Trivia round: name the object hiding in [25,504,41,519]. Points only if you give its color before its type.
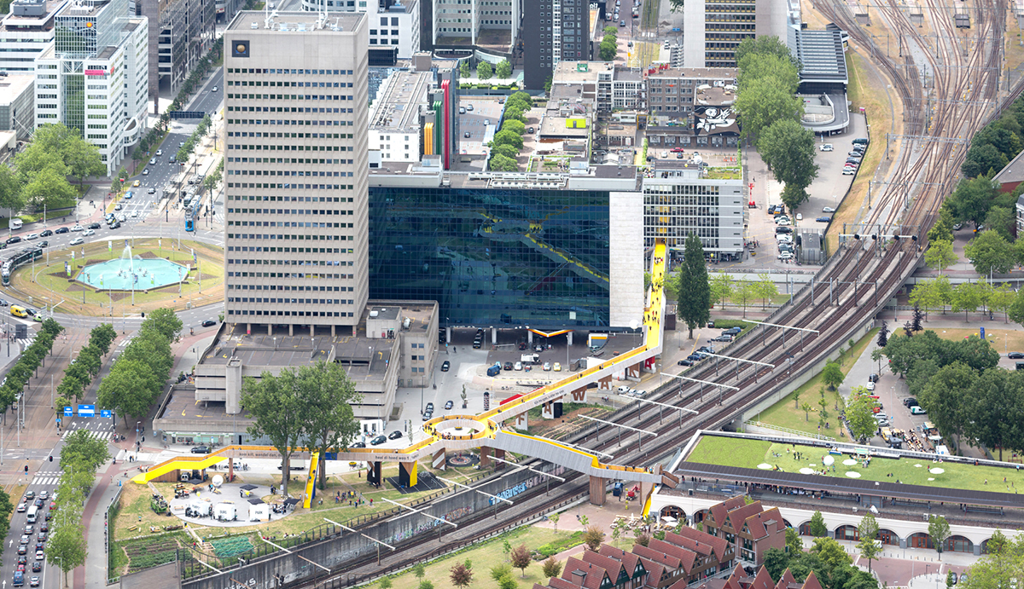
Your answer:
white vehicle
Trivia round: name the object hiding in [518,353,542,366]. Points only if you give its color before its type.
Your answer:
white vehicle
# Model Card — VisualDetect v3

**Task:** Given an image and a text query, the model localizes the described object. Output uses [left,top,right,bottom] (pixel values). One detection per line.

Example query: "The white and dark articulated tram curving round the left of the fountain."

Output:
[0,234,44,290]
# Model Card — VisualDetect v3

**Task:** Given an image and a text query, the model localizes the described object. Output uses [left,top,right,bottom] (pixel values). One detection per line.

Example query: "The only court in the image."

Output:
[388,472,447,494]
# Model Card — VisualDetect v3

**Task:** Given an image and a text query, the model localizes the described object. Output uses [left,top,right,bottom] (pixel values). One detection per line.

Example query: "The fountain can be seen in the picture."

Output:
[72,235,188,294]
